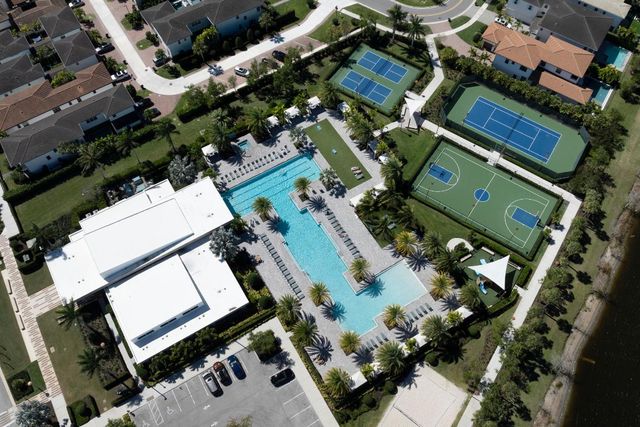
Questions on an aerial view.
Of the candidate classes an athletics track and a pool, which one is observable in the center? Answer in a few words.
pool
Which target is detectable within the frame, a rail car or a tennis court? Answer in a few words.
tennis court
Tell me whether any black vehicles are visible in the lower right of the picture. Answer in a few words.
No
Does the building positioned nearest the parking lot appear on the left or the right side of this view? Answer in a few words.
left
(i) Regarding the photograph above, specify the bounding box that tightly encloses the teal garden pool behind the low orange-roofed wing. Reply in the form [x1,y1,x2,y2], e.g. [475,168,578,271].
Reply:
[589,83,612,106]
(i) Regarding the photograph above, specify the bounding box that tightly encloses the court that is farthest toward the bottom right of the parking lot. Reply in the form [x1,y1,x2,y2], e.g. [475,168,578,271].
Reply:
[378,361,469,427]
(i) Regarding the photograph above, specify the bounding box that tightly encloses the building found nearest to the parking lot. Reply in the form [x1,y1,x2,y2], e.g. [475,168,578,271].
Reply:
[46,176,250,365]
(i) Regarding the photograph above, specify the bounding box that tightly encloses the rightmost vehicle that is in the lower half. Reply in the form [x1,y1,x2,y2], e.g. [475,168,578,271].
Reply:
[272,368,295,385]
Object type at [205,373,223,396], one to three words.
car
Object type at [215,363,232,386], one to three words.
car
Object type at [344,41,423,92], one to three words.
sports court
